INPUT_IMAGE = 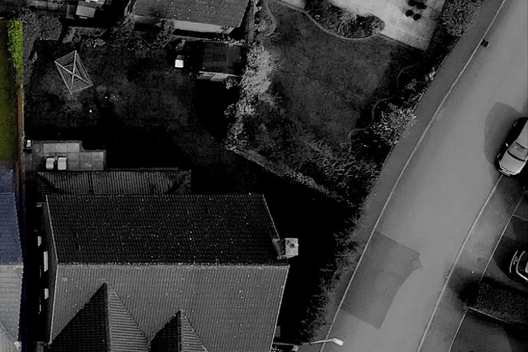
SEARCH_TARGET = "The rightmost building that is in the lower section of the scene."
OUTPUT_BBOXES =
[35,170,300,352]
